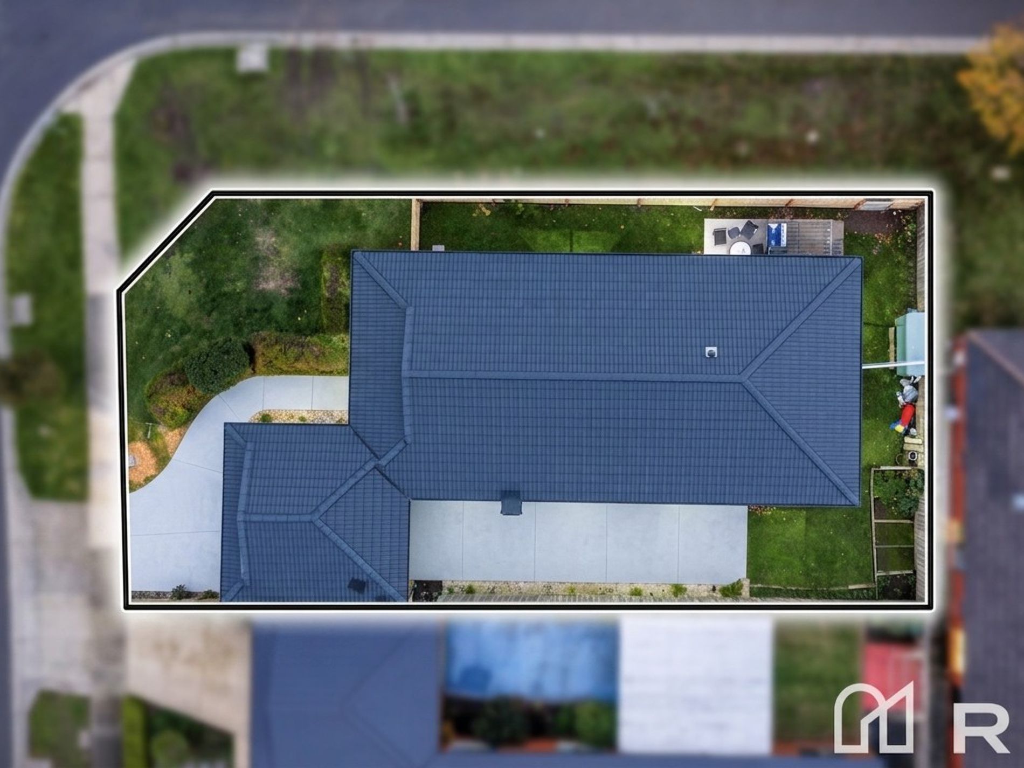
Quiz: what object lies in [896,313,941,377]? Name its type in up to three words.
shed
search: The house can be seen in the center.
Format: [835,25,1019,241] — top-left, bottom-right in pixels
[219,249,864,607]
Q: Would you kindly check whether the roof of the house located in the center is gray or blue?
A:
blue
